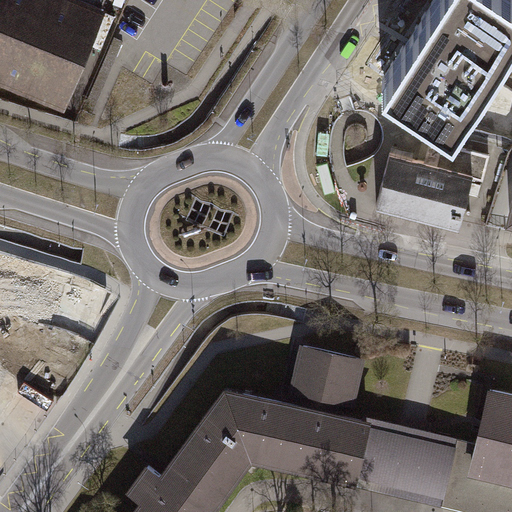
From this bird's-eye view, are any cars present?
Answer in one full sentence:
Yes, the photo shows a car.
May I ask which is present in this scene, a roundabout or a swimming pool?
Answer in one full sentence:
Of the two, only a roundabout appears.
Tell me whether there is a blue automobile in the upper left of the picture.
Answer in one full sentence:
Yes, there is a blue automobile in the upper left of the picture.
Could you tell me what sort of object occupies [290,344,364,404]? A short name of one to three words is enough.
building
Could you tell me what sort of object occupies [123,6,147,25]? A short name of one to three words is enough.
car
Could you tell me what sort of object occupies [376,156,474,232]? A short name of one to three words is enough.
house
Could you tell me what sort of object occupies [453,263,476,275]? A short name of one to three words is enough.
vehicle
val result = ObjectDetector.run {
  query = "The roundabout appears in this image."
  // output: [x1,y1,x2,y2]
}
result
[117,141,290,302]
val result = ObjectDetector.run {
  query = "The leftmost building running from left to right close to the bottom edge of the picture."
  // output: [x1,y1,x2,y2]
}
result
[128,389,370,512]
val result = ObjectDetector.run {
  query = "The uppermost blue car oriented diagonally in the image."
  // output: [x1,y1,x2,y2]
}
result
[118,20,138,36]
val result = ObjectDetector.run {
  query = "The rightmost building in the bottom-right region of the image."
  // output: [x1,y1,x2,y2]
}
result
[468,386,512,487]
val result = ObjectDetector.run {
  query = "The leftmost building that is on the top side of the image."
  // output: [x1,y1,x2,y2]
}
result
[0,0,104,112]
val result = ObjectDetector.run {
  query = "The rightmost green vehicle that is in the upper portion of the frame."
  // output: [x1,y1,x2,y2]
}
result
[340,35,358,58]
